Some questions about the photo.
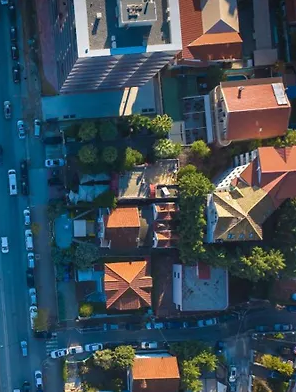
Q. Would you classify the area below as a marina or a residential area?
residential area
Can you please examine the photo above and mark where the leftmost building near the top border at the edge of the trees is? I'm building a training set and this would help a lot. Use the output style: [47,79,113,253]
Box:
[38,0,182,124]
